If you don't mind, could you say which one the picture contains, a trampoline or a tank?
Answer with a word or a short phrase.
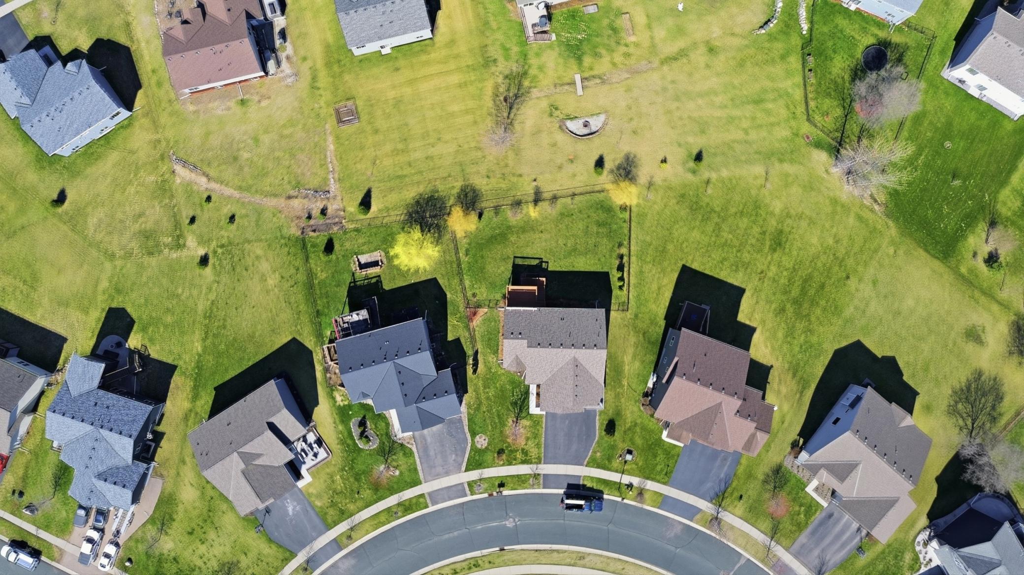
trampoline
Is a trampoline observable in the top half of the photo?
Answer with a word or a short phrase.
Yes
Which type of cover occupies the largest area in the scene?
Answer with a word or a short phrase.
grass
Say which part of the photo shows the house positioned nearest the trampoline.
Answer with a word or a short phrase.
top right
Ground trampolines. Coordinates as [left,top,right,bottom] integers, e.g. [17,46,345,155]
[863,42,897,72]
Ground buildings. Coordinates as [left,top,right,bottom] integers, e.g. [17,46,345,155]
[336,0,432,55]
[321,298,461,434]
[0,40,134,158]
[792,381,932,544]
[950,2,1024,114]
[515,0,557,45]
[157,0,270,102]
[842,0,922,33]
[504,277,607,414]
[41,353,169,509]
[188,379,314,517]
[641,302,775,458]
[925,510,1024,575]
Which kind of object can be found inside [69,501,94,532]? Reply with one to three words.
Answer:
truck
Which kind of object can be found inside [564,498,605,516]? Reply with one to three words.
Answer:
vehicle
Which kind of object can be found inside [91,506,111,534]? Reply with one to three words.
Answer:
car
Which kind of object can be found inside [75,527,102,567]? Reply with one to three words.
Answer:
truck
